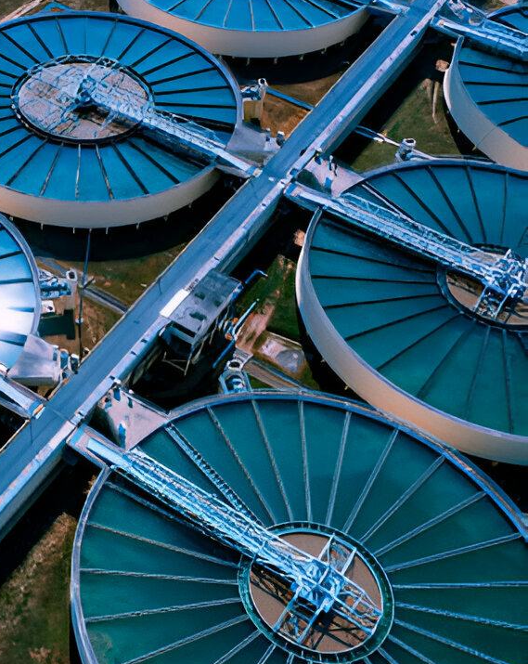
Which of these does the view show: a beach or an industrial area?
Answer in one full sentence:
This image shows an industrial area.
